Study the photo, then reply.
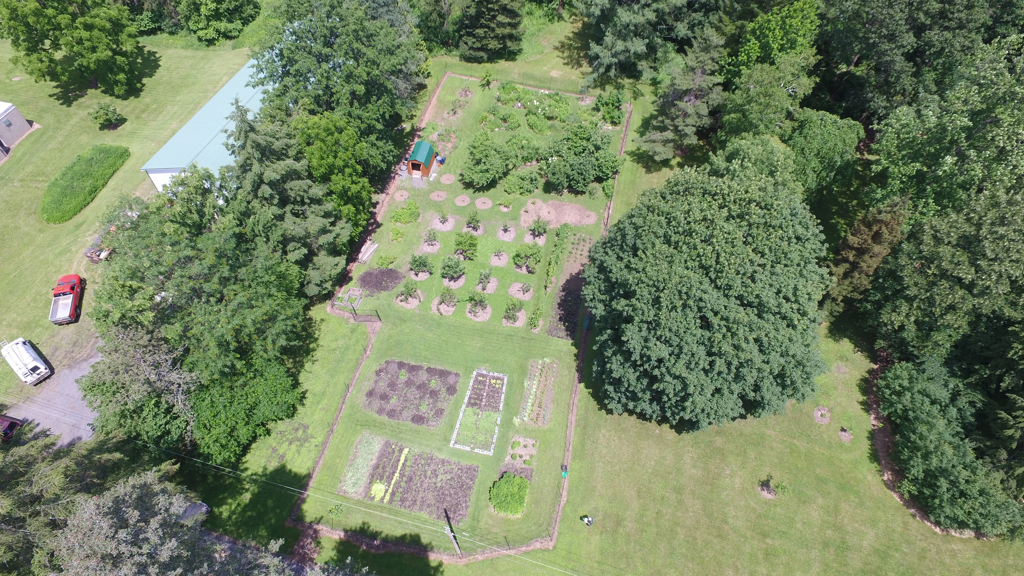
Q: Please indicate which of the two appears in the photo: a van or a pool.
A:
van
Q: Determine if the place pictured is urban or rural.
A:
rural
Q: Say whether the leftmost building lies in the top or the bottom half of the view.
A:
top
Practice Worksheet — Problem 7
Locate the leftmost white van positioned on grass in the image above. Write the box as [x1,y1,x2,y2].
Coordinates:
[1,335,49,384]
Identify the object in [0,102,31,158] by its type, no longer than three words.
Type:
building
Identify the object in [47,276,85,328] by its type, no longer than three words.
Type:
truck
